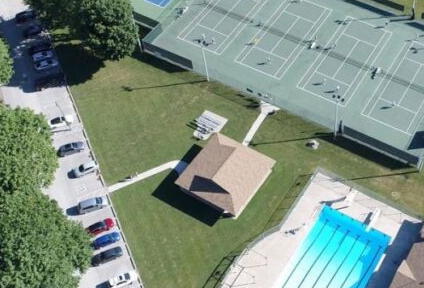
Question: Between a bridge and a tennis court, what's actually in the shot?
tennis court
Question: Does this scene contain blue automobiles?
Yes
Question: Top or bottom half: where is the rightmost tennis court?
top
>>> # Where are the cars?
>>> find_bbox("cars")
[30,52,54,64]
[15,12,37,23]
[49,116,72,130]
[94,248,123,268]
[58,140,84,156]
[71,162,98,180]
[77,197,108,217]
[20,27,44,39]
[26,42,50,56]
[87,220,116,238]
[107,272,138,288]
[91,234,120,253]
